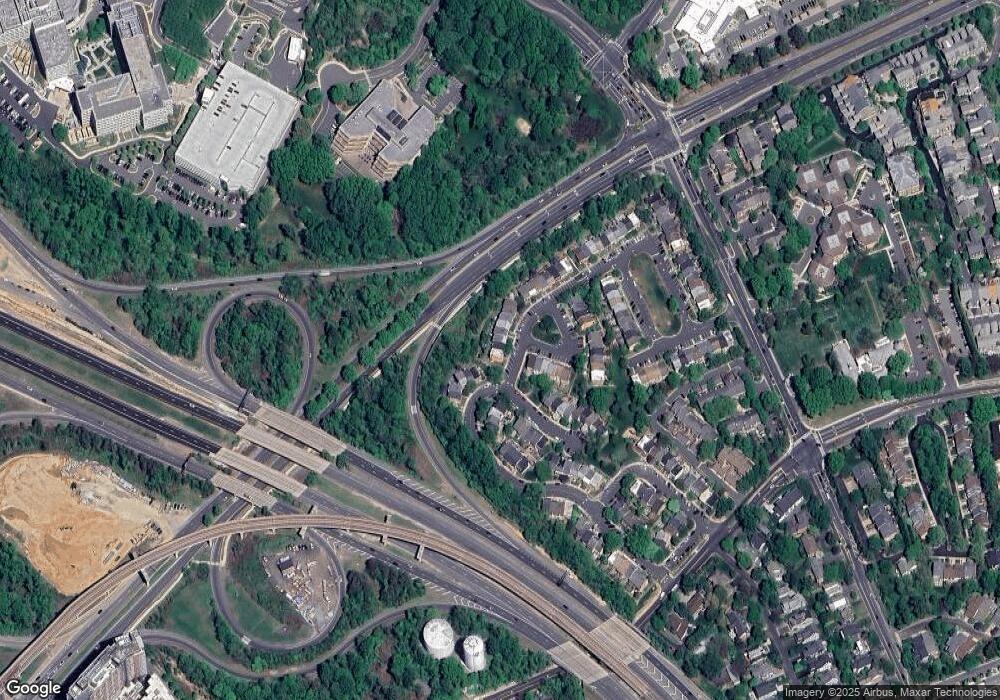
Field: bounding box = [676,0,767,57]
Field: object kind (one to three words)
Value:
building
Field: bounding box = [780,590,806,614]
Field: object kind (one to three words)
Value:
house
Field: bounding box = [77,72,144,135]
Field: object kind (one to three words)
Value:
building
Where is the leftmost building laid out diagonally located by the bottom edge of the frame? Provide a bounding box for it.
[62,630,148,700]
